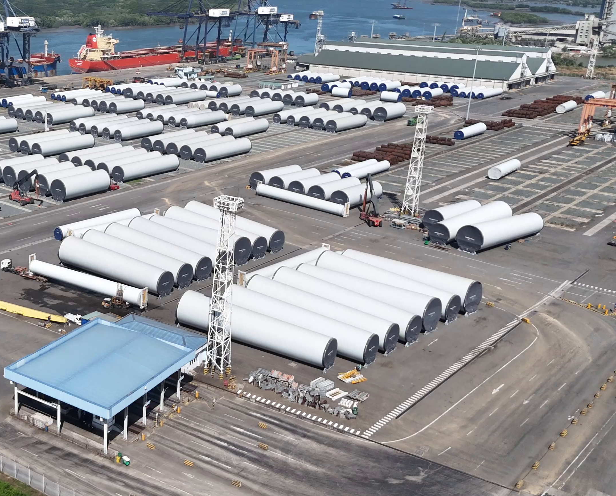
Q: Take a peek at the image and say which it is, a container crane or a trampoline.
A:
container crane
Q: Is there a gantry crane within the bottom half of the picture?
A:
No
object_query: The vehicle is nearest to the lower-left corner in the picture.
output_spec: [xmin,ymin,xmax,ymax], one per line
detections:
[64,313,83,325]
